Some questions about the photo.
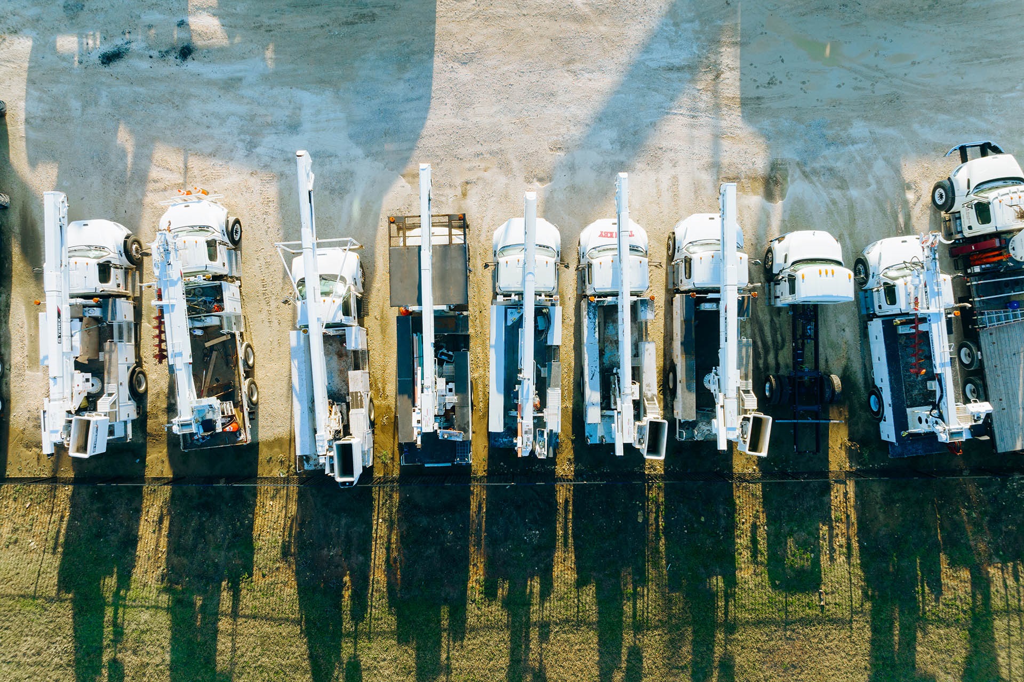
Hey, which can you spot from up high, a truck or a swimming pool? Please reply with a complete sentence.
There is a truck in the scene.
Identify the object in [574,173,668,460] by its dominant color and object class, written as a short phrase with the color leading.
white truck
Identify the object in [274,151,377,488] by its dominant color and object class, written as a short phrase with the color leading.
white truck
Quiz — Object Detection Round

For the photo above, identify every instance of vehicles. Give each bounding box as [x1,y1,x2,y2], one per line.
[665,183,773,457]
[935,137,1024,454]
[274,151,377,488]
[388,164,477,466]
[760,226,861,452]
[574,173,668,460]
[851,227,991,462]
[137,193,262,452]
[483,192,571,459]
[33,193,150,458]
